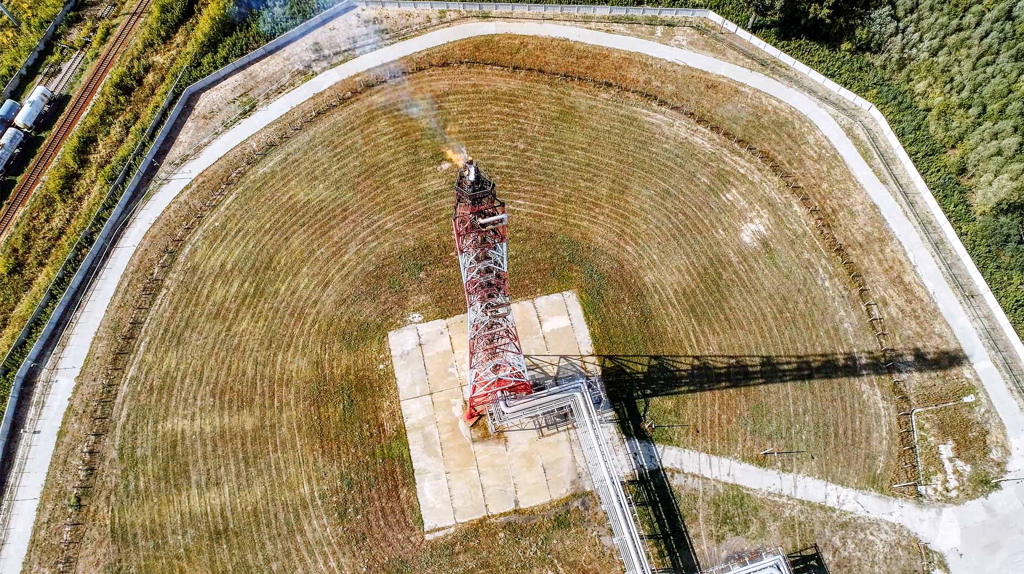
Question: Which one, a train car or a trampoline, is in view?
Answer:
train car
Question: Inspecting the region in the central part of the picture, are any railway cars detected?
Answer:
No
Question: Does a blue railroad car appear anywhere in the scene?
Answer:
Yes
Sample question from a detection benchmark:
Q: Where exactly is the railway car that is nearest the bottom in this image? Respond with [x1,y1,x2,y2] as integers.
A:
[0,128,28,177]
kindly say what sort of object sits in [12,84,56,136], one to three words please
rail car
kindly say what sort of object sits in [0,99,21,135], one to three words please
rail car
